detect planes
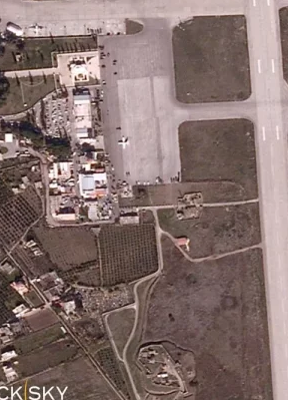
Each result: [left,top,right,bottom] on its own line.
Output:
[118,137,129,149]
[29,24,43,35]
